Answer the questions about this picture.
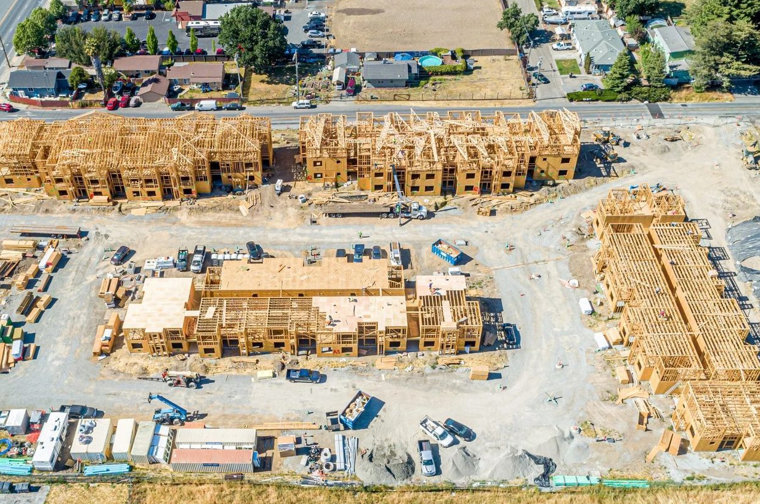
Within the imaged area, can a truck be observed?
Yes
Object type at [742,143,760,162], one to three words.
work vehicle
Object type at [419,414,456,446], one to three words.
truck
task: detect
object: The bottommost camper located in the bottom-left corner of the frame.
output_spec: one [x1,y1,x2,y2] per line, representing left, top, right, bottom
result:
[23,410,76,473]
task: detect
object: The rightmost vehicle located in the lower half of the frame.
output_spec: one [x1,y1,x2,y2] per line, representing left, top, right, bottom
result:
[500,319,521,348]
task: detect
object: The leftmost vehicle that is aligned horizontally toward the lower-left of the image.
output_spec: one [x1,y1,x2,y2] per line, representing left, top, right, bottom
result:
[62,402,100,418]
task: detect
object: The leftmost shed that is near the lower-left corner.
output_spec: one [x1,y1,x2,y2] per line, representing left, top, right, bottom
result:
[0,403,32,438]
